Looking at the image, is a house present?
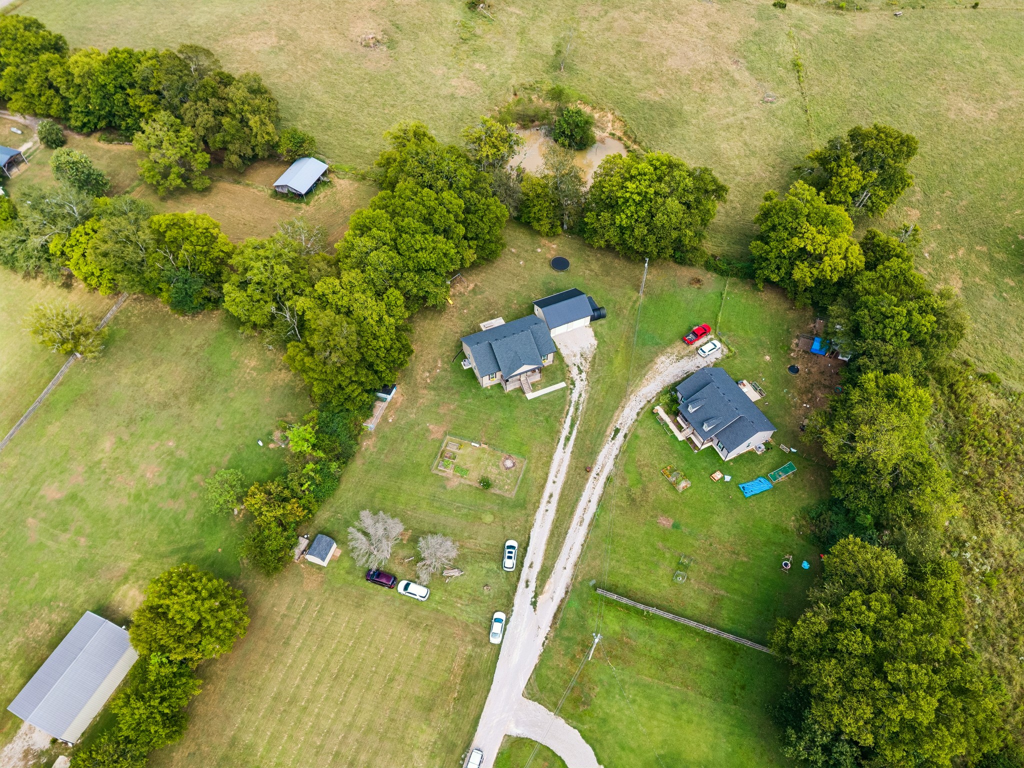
Yes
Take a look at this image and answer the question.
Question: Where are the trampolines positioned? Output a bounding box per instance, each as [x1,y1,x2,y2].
[550,257,570,274]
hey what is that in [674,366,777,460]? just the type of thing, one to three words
house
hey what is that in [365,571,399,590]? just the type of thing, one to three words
car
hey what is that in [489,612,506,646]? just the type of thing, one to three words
car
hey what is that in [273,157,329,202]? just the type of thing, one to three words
barn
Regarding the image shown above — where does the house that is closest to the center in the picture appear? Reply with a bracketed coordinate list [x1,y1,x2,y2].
[461,315,557,394]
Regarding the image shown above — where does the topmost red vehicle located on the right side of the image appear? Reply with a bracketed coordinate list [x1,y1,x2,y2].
[683,327,711,346]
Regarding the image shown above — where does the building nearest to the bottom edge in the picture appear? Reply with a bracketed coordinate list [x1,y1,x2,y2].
[7,608,139,742]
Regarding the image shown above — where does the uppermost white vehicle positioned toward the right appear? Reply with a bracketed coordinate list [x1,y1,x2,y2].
[698,342,720,358]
